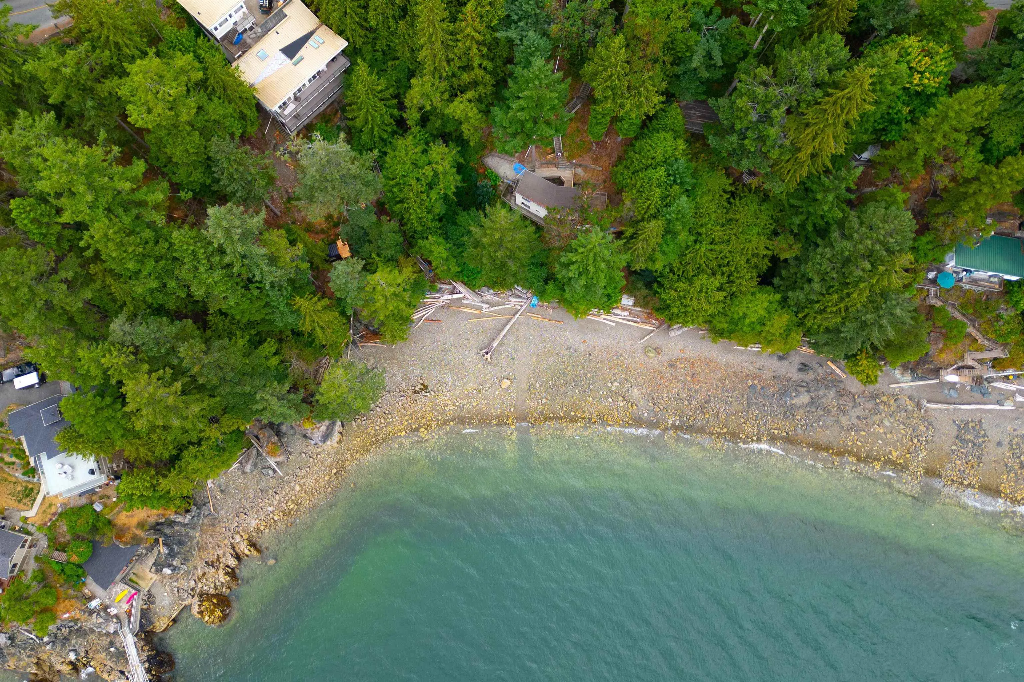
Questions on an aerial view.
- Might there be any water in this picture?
Yes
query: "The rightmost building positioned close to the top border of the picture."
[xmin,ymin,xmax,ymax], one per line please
[231,0,351,137]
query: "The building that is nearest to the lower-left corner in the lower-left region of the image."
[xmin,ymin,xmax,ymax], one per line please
[0,526,42,580]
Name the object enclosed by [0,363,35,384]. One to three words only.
truck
